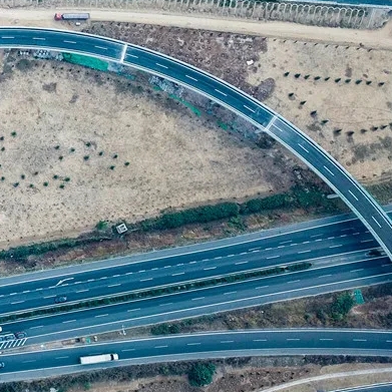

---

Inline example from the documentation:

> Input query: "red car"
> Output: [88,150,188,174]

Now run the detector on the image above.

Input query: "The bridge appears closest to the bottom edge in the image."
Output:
[0,26,392,262]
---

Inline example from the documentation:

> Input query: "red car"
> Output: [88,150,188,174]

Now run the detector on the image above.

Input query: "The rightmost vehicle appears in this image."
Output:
[79,351,120,364]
